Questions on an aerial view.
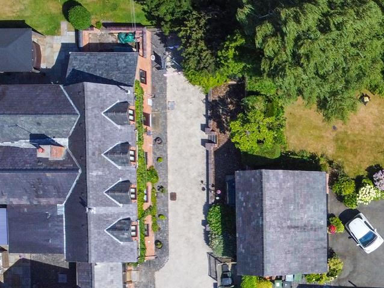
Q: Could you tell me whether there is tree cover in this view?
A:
Yes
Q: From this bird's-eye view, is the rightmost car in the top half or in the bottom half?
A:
bottom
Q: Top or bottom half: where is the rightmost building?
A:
bottom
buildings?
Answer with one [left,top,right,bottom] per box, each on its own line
[235,169,331,277]
[0,28,44,77]
[0,52,160,288]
